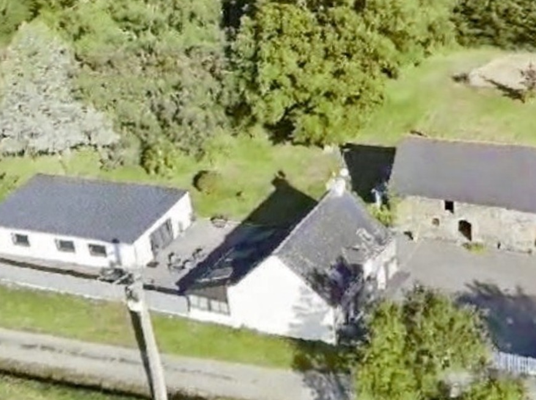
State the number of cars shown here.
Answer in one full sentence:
There are no cars in the image.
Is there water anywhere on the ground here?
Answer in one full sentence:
No, no water is visible.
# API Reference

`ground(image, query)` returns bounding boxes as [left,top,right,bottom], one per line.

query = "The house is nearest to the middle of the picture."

[182,157,402,344]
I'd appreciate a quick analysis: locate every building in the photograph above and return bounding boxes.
[0,171,189,268]
[396,133,536,256]
[182,157,402,344]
